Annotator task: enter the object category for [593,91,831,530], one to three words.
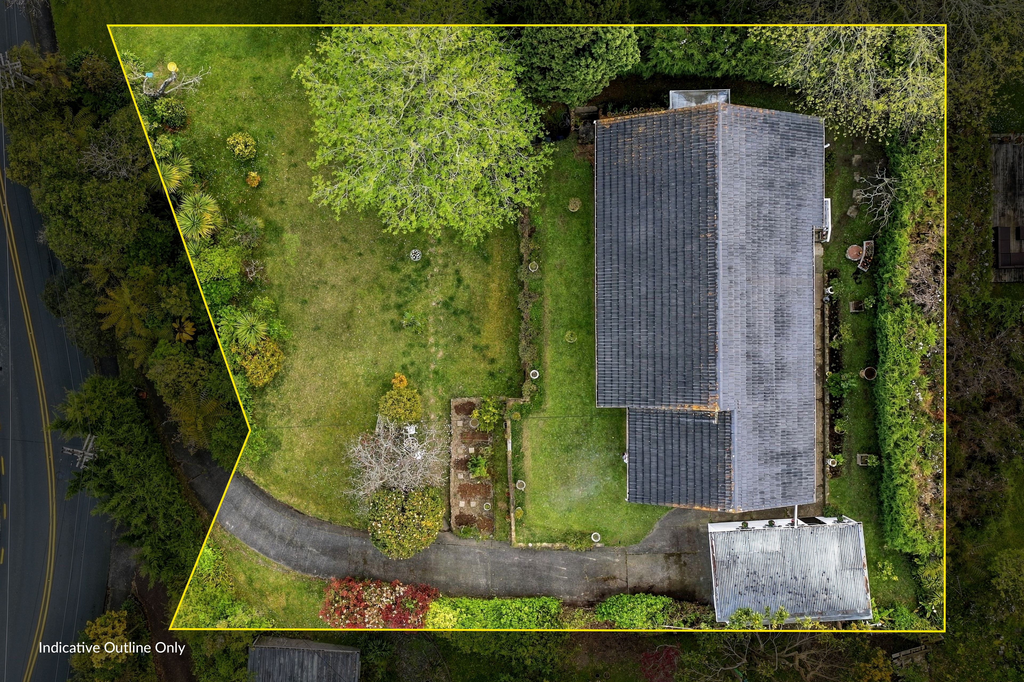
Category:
house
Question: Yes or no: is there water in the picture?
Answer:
No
